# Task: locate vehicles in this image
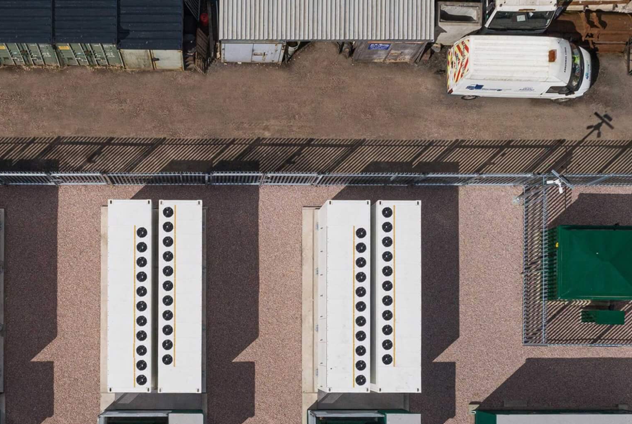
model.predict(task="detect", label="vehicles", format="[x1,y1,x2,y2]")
[448,34,590,102]
[472,0,565,35]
